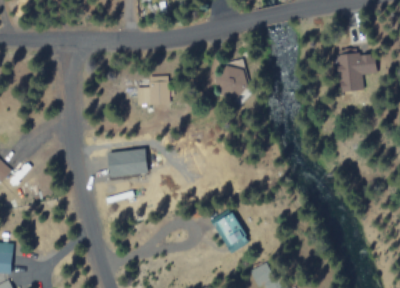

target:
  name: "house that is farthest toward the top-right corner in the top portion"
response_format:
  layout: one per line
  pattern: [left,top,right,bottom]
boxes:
[338,54,378,92]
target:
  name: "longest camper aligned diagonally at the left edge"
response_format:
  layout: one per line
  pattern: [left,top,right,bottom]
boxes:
[10,164,31,184]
